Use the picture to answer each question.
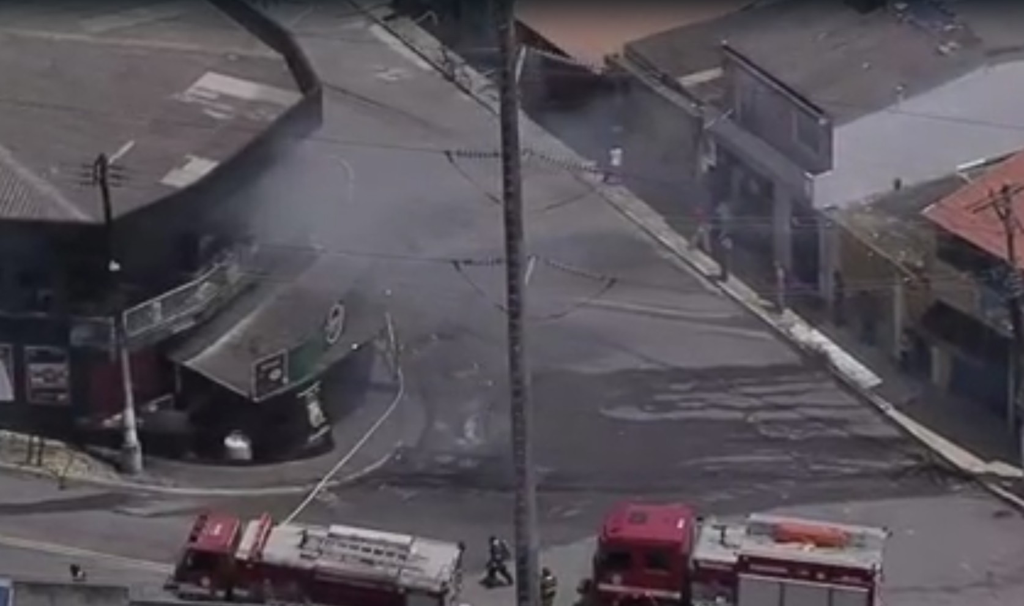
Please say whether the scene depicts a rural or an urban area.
urban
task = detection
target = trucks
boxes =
[158,511,469,606]
[587,499,893,606]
